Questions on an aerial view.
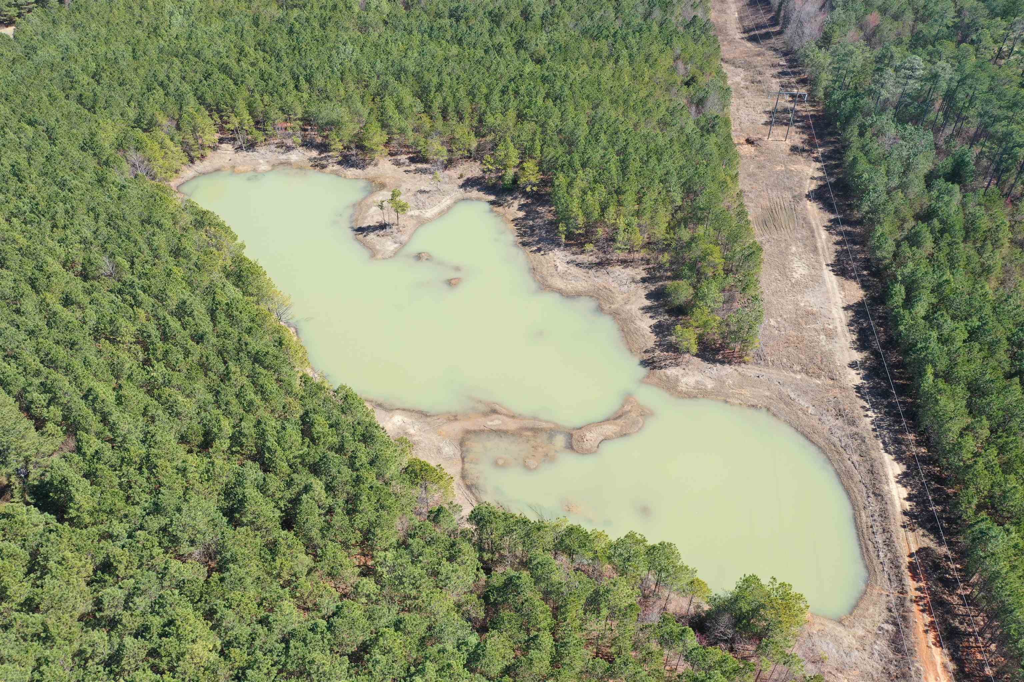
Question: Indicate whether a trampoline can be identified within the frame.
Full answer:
No, the scene contains no trampoline.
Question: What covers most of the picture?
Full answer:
The bulk of the photo consists of trees.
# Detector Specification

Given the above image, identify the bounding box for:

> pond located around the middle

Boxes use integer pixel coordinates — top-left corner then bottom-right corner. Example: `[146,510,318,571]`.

[182,170,861,613]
